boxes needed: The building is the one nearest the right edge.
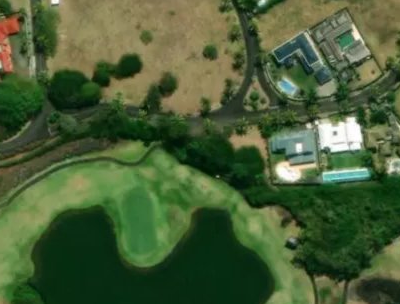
[364,126,400,157]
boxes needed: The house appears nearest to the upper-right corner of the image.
[313,10,366,73]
